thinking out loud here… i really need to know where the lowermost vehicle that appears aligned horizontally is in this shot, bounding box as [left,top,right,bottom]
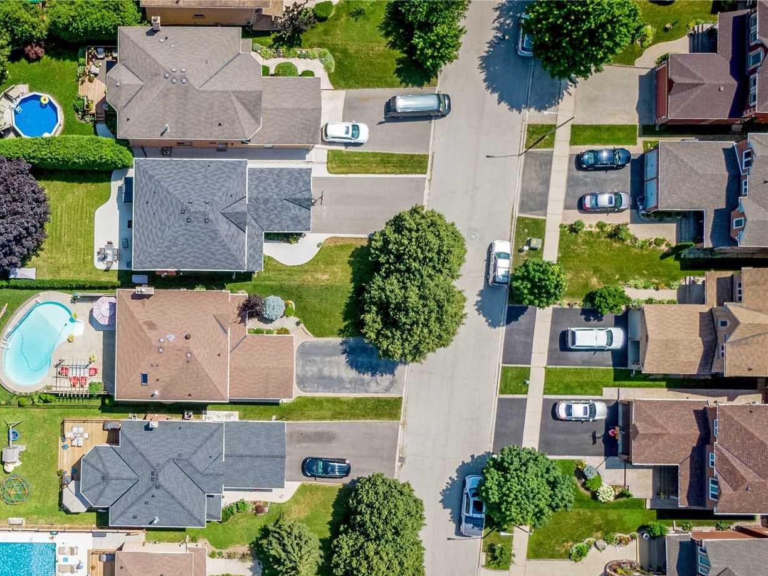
[300,456,350,481]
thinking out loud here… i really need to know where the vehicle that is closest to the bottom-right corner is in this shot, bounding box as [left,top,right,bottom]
[553,399,605,424]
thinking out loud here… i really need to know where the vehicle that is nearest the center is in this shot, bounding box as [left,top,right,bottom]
[485,240,513,289]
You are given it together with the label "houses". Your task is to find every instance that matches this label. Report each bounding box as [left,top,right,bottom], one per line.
[610,521,768,576]
[631,268,768,377]
[646,133,768,248]
[655,0,768,122]
[115,543,207,576]
[133,158,327,272]
[106,15,323,148]
[115,286,296,401]
[80,413,287,528]
[620,399,768,515]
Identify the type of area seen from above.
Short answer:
residential area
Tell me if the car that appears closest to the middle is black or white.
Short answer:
white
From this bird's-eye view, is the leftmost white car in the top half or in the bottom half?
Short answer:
top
